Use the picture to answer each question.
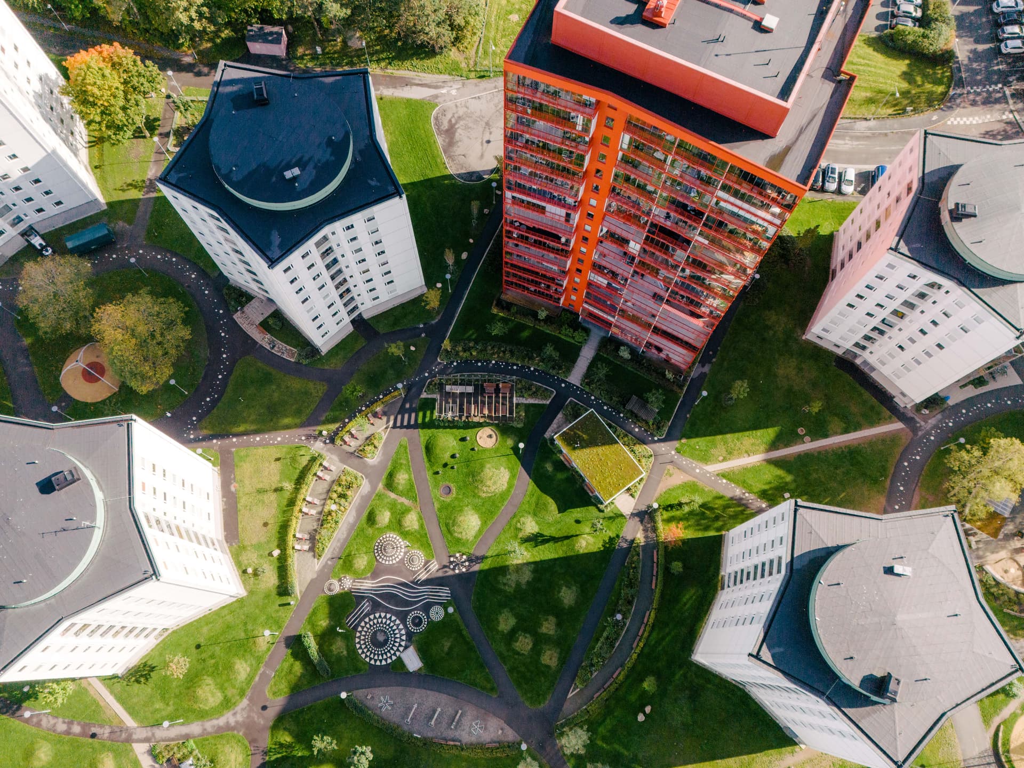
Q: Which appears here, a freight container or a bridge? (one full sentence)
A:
Of the two, only a freight container appears.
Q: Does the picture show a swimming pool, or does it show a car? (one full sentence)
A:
Looking from above, you can make out a car.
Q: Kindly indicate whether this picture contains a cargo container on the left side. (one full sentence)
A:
Yes, I can see a cargo container on the left side.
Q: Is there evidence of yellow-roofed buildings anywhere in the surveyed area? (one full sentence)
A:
Yes, you can see a yellow-roofed building in this photo.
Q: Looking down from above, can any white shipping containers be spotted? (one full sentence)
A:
No, there is no white shipping container in the image.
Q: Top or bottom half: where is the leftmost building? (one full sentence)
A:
The top half of the photo is where the leftmost building is.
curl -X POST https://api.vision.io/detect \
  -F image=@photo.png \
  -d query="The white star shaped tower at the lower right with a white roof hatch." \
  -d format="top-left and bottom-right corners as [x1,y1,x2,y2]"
[696,501,1022,767]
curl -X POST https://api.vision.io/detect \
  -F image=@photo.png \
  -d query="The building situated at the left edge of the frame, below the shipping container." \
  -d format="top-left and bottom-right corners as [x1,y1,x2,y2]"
[0,418,239,673]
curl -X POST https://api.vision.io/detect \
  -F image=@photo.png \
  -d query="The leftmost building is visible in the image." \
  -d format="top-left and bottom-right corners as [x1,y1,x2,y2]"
[0,0,106,260]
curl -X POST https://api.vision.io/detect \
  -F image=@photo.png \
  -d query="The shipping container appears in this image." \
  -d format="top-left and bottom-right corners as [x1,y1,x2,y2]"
[60,221,116,254]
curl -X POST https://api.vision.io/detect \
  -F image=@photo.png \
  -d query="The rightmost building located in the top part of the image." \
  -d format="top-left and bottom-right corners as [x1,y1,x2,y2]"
[808,131,1024,405]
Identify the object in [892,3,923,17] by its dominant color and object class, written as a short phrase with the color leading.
white car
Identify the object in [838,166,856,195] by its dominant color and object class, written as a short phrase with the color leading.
white car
